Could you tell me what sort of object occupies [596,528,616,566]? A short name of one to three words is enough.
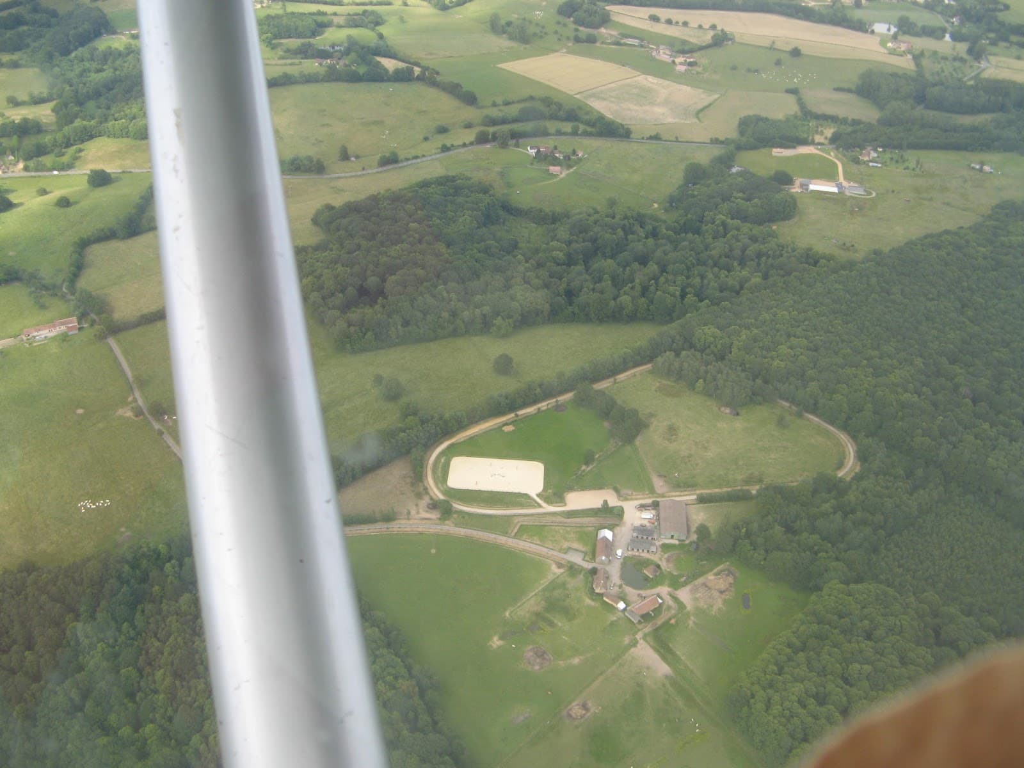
barn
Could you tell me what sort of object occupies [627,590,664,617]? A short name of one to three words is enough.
barn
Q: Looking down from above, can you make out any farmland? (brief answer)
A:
Yes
